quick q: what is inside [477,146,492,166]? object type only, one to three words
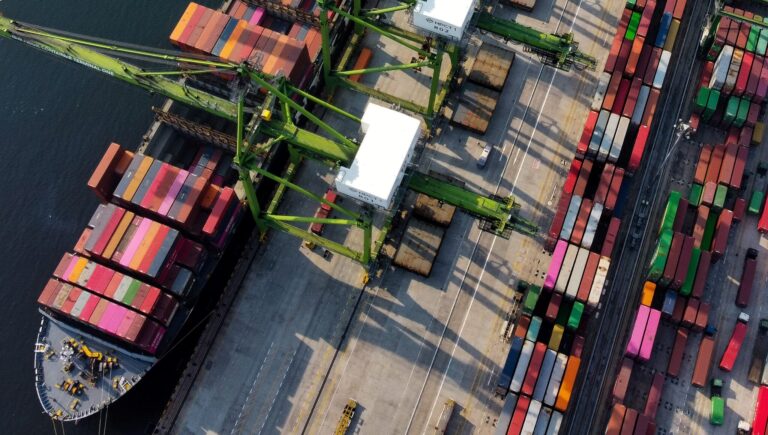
vehicle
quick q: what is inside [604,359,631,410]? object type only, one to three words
shipping container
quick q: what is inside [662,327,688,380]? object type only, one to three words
shipping container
